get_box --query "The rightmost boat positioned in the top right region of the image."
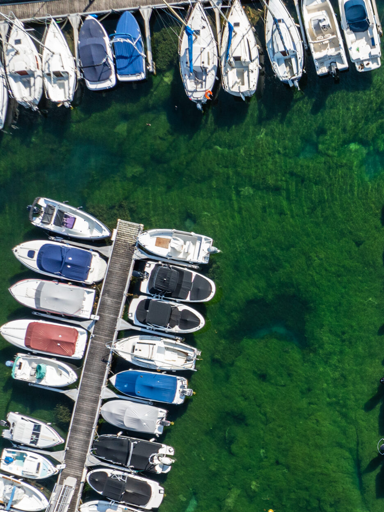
[342,0,382,78]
